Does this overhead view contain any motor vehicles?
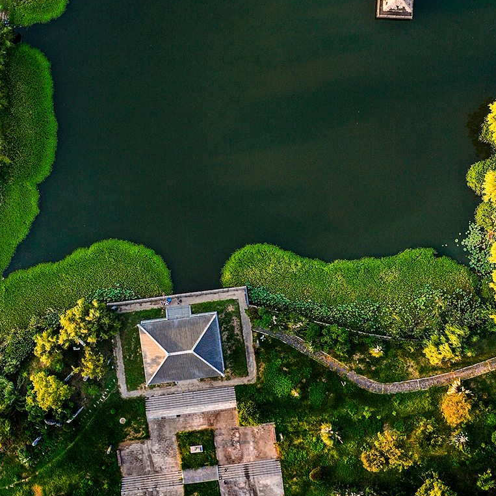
No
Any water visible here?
Yes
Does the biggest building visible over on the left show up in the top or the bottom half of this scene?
bottom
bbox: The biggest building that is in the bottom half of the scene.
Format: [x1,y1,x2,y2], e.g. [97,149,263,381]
[136,303,226,389]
